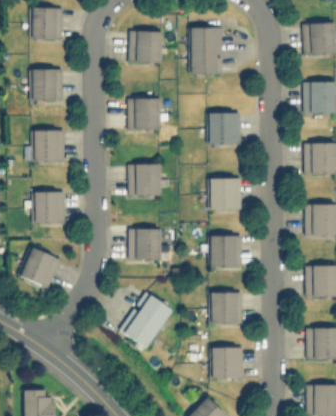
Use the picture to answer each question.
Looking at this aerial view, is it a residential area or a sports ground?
residential area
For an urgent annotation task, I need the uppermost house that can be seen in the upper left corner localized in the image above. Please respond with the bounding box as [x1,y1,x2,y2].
[31,7,62,40]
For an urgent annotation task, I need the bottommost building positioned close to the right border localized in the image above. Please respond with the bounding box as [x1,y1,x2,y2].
[306,384,336,416]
